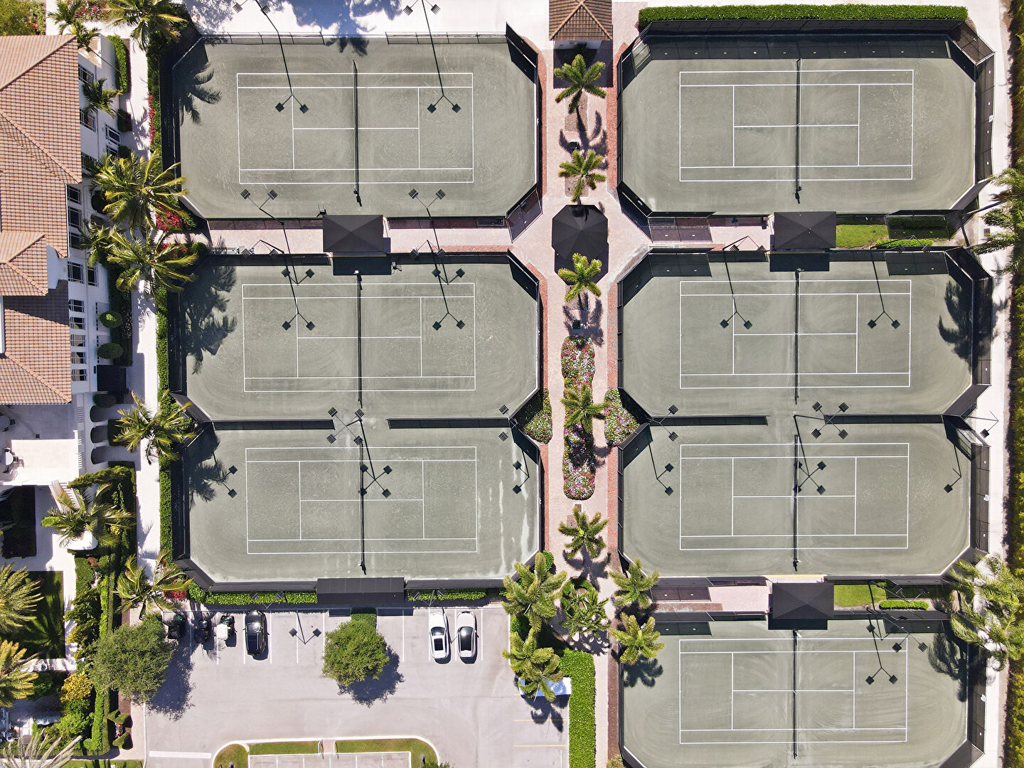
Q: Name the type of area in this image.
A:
sports ground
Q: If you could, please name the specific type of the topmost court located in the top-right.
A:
tennis court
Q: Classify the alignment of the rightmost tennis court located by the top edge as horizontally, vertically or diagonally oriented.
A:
horizontally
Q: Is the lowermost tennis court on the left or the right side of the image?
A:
right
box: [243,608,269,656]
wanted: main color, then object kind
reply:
black car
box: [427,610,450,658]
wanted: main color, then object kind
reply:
white car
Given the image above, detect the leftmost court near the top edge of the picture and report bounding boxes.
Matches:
[174,35,537,216]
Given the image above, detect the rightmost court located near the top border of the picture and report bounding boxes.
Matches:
[618,35,976,218]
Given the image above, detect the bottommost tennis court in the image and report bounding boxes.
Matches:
[622,616,968,768]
